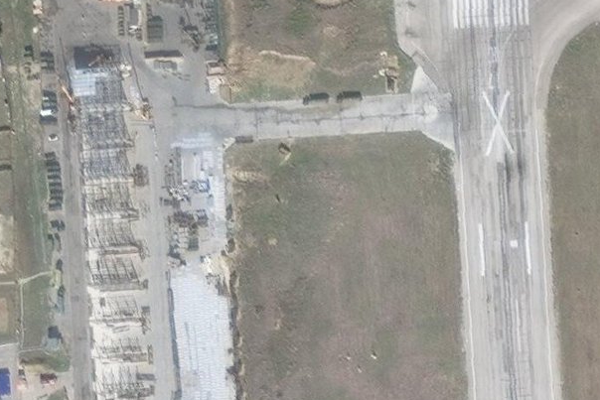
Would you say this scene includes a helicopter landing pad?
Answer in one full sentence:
No, there's no helicopter landing pad here.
